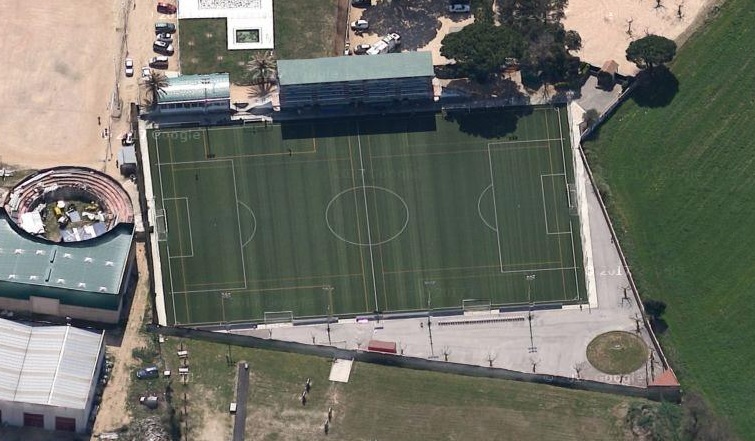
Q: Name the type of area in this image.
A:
sports ground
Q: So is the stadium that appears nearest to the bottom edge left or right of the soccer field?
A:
left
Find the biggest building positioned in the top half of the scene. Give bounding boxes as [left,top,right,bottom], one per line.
[157,74,230,114]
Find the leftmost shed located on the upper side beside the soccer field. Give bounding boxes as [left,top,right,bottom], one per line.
[118,145,137,173]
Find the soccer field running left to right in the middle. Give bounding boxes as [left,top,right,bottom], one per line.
[147,107,588,327]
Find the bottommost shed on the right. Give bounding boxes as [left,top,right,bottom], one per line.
[647,368,680,395]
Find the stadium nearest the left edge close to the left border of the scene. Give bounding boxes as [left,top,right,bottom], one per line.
[3,166,135,241]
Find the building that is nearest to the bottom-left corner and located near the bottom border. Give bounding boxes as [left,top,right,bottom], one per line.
[0,320,104,430]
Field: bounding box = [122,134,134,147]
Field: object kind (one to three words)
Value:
vehicle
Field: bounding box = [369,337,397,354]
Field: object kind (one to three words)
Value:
building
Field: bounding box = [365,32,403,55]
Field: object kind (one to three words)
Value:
truck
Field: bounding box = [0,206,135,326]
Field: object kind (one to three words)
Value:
building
